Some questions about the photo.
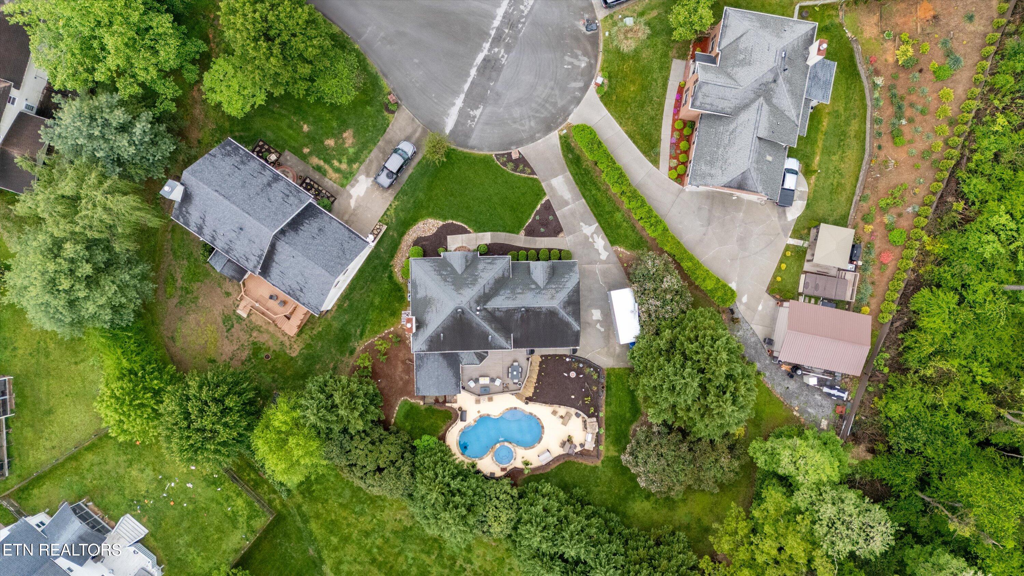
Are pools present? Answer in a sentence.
Yes, there's a pool here.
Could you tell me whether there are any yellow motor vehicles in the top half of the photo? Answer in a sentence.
No, no yellow motor vehicle appears in the top half of the photo.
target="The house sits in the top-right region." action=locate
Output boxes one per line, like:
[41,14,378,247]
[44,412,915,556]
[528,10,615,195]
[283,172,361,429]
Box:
[681,6,837,202]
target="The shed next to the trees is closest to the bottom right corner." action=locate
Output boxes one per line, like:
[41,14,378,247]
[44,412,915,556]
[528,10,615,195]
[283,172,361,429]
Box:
[769,299,872,377]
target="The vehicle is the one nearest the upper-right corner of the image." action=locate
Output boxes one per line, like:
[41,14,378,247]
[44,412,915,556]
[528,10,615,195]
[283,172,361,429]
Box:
[773,153,803,213]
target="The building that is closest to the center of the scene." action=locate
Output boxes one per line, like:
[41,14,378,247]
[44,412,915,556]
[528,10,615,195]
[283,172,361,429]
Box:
[405,251,581,396]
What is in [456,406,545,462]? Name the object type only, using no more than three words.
swimming pool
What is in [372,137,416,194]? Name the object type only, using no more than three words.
truck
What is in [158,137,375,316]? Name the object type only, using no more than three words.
house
